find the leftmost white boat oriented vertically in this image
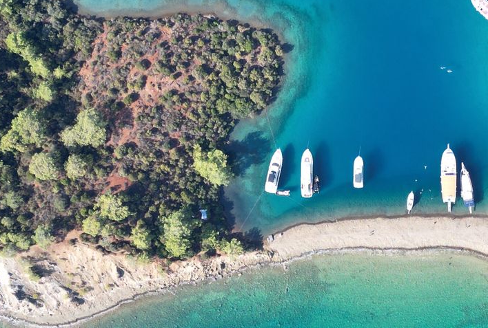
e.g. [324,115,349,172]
[266,148,282,196]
